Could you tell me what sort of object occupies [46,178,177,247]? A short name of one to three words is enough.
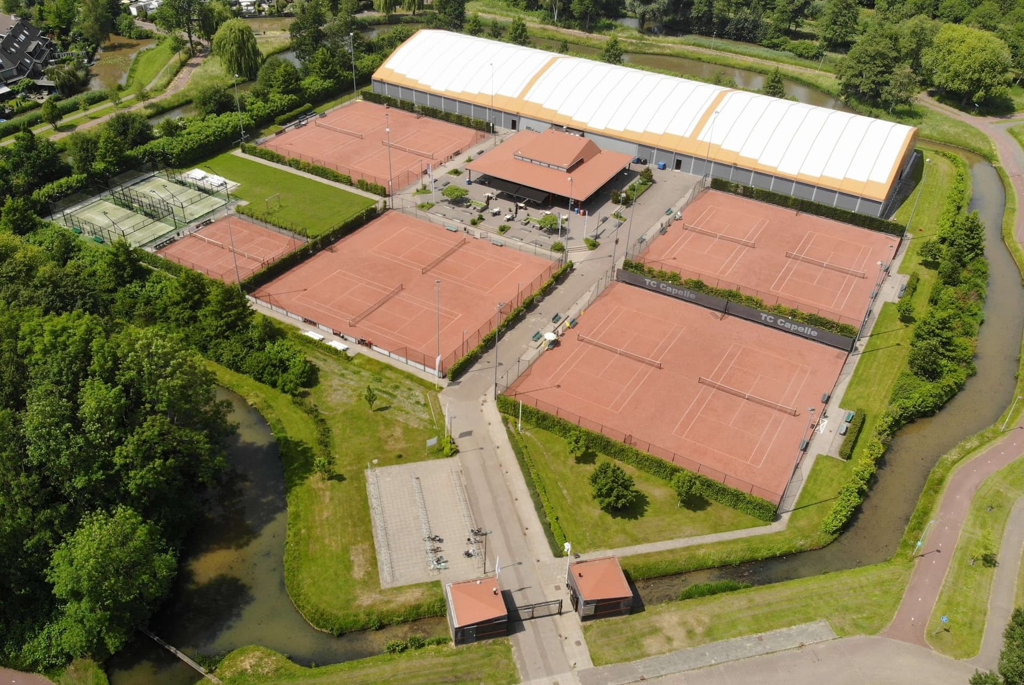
sports court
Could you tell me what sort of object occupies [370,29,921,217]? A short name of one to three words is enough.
building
